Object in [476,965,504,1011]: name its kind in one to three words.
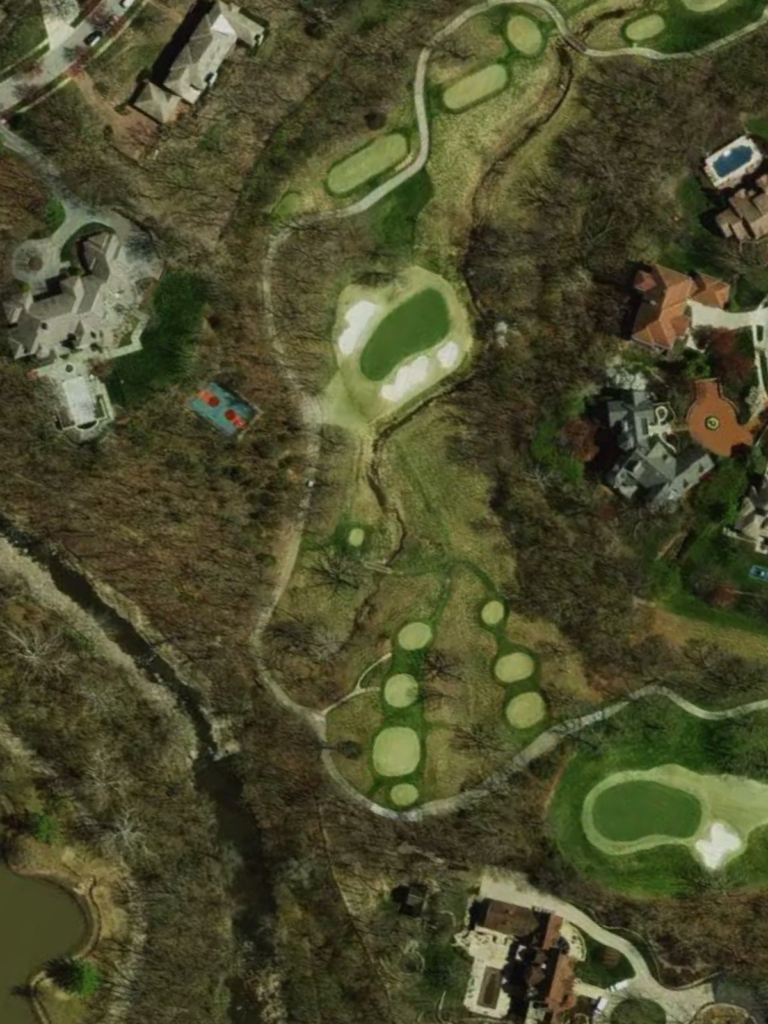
swimming pool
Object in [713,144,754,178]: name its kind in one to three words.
swimming pool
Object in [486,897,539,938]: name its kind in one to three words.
building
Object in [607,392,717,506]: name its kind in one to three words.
house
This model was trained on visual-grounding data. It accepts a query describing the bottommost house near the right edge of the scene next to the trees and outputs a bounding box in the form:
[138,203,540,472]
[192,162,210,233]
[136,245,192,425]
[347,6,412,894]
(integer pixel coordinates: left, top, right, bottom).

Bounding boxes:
[729,475,768,548]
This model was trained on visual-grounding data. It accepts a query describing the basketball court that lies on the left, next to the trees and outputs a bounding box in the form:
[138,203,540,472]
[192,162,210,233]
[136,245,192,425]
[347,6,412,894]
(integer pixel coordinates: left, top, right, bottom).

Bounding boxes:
[192,380,258,439]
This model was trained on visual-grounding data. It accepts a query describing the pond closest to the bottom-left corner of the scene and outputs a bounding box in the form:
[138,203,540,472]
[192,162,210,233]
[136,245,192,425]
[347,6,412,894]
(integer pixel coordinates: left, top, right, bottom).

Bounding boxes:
[0,863,87,1024]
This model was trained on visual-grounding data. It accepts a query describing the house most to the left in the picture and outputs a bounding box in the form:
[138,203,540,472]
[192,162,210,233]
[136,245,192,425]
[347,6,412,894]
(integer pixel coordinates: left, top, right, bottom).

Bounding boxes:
[3,230,123,361]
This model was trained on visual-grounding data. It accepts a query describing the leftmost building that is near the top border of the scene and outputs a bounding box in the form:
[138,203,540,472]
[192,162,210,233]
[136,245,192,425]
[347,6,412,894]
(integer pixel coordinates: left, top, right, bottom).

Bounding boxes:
[129,0,268,124]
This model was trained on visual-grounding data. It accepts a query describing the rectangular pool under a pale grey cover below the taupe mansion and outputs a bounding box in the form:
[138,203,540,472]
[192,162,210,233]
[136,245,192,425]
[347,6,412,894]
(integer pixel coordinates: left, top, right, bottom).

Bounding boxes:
[61,376,97,427]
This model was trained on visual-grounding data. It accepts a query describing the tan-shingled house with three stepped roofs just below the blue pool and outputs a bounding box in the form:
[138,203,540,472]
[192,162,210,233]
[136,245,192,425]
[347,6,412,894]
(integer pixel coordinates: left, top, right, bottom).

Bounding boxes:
[715,178,768,244]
